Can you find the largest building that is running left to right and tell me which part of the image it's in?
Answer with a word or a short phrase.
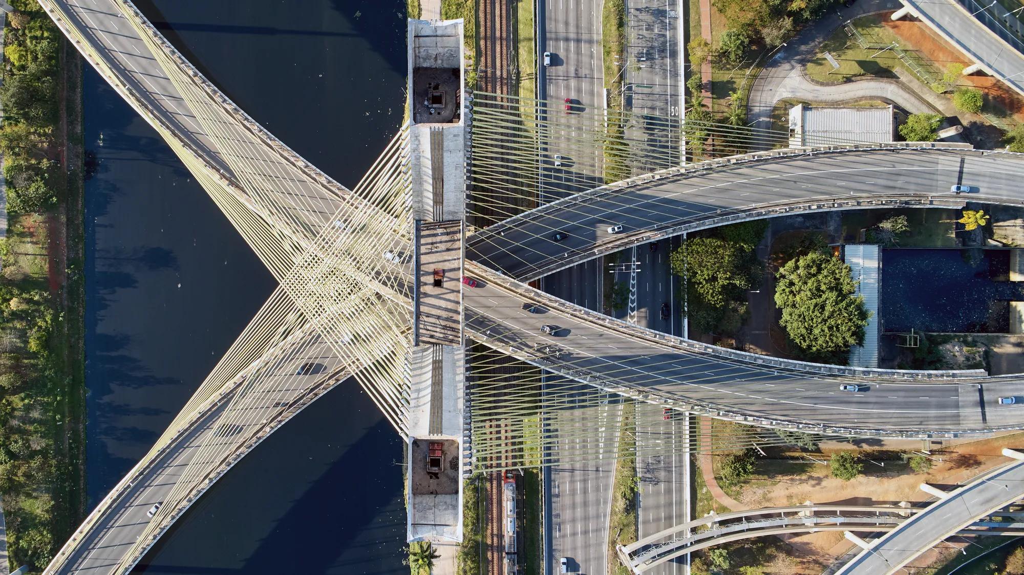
top right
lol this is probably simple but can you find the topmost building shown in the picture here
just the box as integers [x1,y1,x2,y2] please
[789,102,896,147]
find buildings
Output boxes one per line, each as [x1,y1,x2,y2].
[789,102,896,147]
[837,244,882,368]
